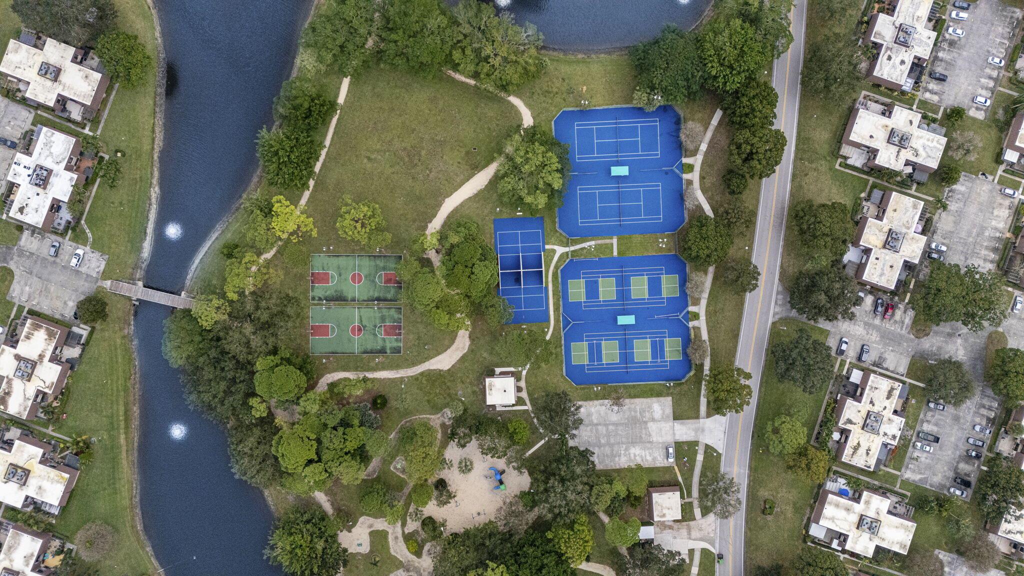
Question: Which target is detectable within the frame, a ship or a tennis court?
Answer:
tennis court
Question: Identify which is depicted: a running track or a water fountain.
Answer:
water fountain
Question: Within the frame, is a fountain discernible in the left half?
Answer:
Yes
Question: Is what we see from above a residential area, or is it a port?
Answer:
residential area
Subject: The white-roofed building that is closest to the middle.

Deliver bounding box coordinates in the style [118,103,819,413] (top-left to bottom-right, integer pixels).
[485,370,519,408]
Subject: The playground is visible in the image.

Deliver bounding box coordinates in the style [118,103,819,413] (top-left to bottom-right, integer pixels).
[404,438,532,535]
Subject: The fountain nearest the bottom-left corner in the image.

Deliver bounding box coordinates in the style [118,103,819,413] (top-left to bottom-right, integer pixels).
[169,419,191,440]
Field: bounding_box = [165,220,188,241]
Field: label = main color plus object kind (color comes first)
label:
white fountain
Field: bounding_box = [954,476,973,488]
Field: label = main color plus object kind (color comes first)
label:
black vehicle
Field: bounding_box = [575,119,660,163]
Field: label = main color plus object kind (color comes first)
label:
blue tennis court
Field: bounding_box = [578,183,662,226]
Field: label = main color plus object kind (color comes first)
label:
blue tennis court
